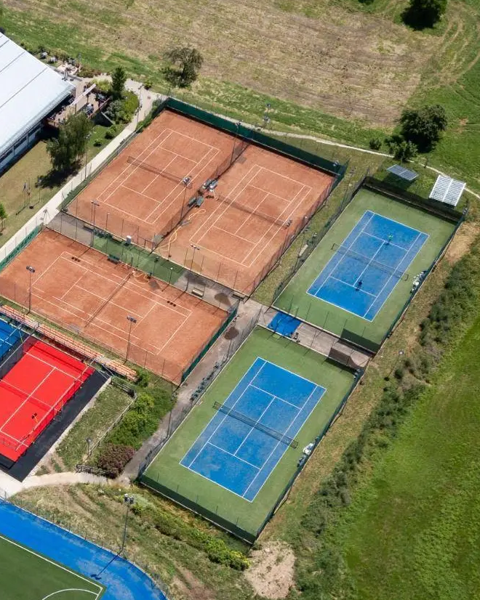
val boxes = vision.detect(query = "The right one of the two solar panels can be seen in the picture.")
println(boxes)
[432,176,465,201]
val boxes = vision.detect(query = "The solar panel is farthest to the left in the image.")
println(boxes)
[388,165,419,182]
